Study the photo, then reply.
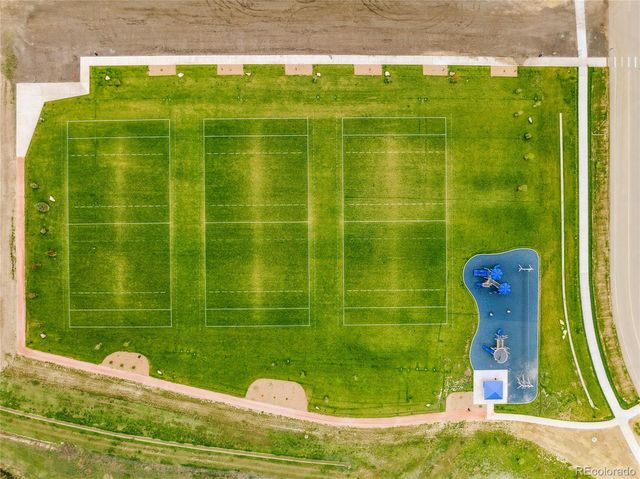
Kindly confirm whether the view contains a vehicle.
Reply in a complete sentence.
No, the picture doesn't show any vehicle.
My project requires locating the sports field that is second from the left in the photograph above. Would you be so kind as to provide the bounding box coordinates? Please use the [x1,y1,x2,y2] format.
[197,117,316,335]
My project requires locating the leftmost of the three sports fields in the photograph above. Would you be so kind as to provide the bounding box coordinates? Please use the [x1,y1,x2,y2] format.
[61,118,178,334]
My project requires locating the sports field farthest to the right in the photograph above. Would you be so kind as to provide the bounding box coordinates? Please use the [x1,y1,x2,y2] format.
[336,116,454,333]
